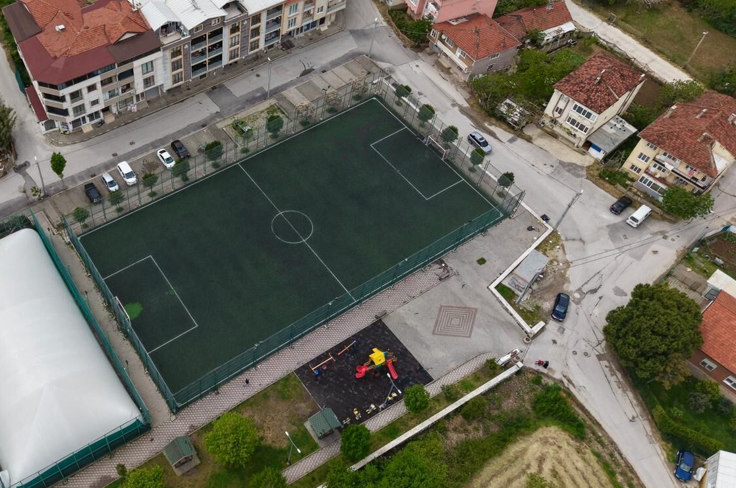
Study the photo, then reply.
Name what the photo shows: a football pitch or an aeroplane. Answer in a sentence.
There is a football pitch in the scene.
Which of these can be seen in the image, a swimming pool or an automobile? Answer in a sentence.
Of the two, only an automobile appears.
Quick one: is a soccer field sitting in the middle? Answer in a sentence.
Yes, I can see a soccer field in the middle.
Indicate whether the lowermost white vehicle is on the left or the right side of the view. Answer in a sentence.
You can find the lowermost white vehicle on the right side of the picture.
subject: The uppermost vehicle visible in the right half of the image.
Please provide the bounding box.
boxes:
[465,130,492,152]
